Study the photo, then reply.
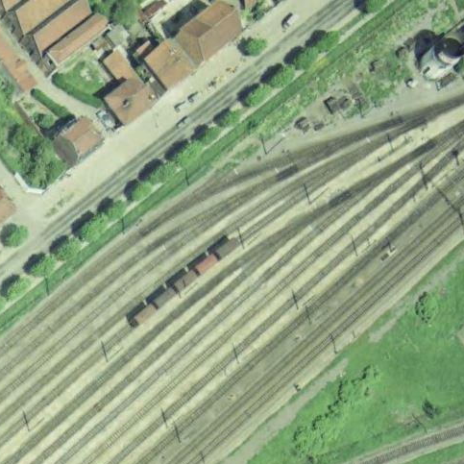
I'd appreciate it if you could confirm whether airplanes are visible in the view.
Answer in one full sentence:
No, there's no airplane here.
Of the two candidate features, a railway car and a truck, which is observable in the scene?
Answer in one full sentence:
Visible in the photo is a railway car.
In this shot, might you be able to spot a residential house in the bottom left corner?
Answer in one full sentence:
No, in the bottom left corner there is no residential house.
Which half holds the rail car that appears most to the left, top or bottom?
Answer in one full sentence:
You can find the rail car that appears most to the left in the bottom half.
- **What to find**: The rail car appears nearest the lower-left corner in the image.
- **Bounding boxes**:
[132,302,158,325]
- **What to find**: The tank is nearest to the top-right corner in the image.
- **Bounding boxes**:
[418,37,464,84]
